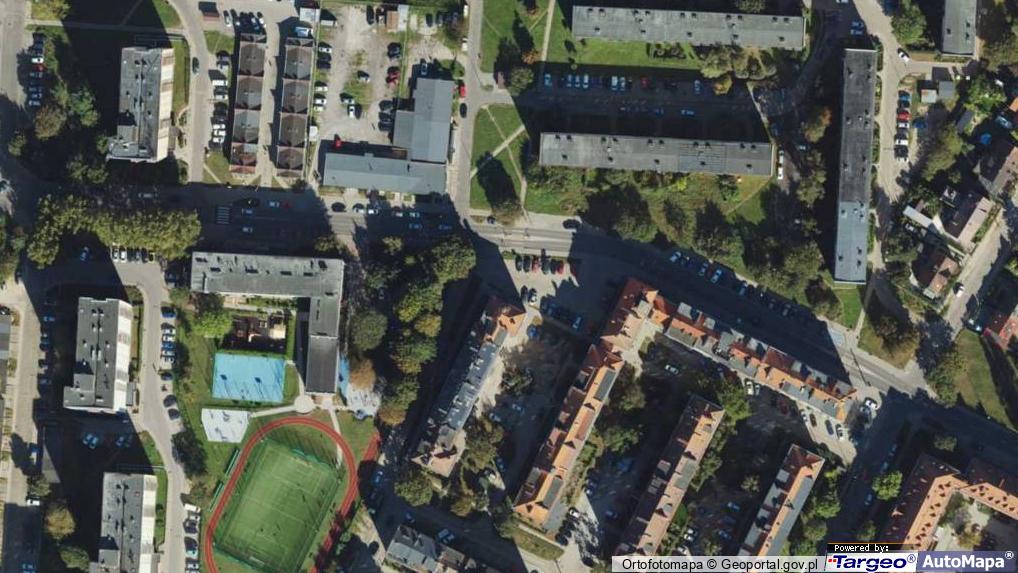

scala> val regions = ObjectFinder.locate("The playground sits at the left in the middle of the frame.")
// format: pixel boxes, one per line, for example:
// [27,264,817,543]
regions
[226,314,285,351]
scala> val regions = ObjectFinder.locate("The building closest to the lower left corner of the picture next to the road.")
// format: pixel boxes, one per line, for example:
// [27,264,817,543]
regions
[88,473,161,573]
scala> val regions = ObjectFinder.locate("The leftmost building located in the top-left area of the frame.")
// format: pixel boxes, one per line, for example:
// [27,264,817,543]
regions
[107,48,180,167]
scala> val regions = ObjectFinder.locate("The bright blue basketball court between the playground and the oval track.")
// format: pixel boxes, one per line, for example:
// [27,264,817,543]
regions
[210,350,288,404]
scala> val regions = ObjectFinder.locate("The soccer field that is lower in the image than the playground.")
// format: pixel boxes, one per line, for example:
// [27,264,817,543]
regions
[206,433,345,573]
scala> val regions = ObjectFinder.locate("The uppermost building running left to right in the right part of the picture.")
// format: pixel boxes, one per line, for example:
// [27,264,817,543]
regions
[573,6,805,54]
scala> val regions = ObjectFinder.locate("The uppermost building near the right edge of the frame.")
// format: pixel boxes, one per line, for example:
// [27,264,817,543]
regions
[942,0,977,58]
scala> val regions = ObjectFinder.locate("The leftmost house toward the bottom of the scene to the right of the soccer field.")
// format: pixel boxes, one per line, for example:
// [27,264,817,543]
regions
[387,527,449,573]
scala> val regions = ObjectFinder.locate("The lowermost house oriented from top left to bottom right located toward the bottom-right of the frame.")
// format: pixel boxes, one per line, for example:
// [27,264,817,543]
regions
[944,455,1018,520]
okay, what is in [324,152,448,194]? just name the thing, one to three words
building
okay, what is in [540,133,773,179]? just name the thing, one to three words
building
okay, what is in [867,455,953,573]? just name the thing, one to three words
house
